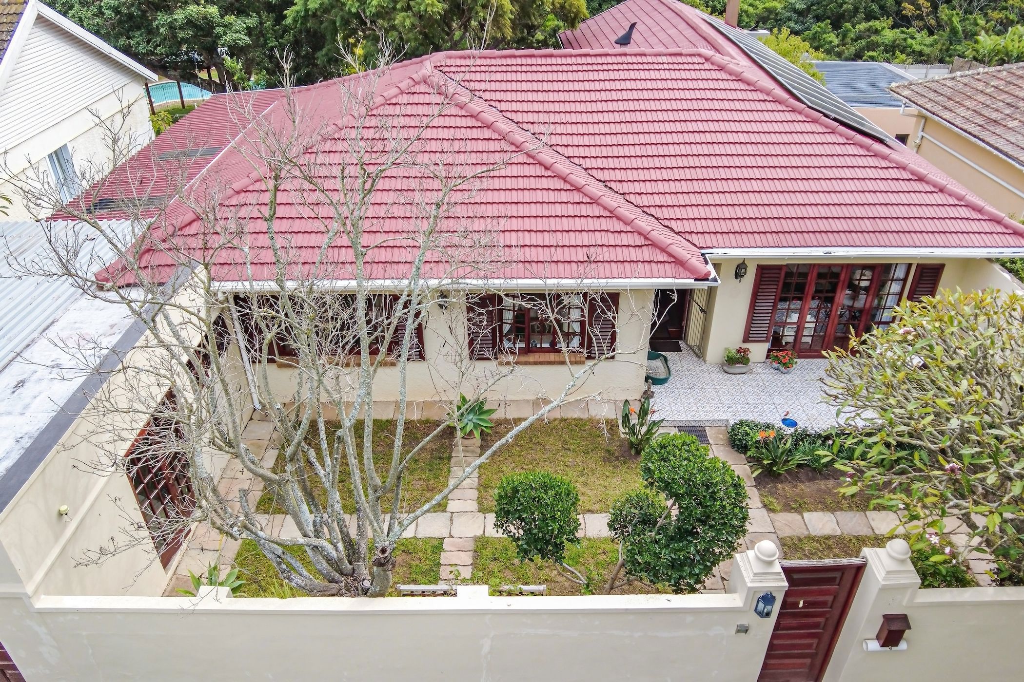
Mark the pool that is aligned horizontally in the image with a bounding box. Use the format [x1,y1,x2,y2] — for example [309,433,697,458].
[142,79,271,101]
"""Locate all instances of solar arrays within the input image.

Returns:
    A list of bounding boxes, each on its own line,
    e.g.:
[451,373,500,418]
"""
[689,0,907,148]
